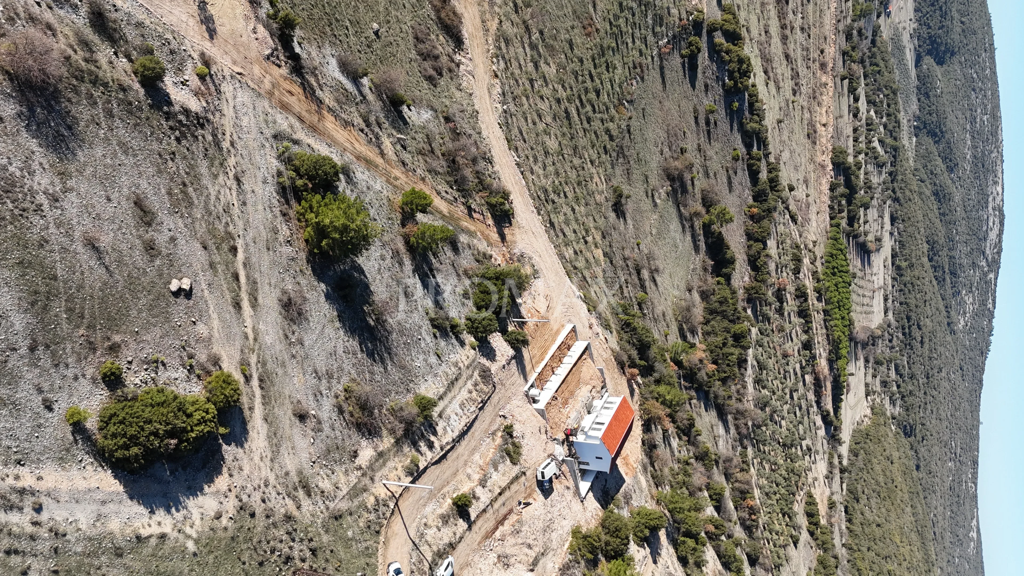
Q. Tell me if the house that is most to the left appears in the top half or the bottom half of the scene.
bottom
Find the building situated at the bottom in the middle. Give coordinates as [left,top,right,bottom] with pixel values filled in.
[565,385,635,472]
